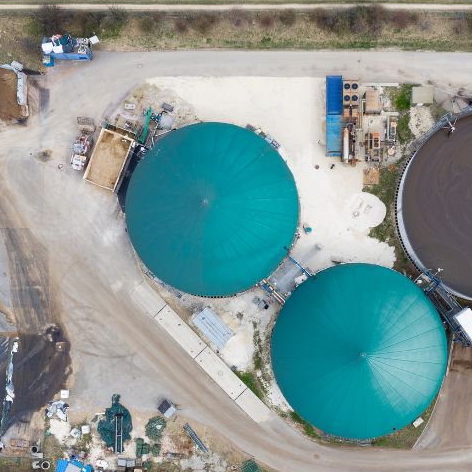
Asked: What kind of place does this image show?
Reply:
industrial area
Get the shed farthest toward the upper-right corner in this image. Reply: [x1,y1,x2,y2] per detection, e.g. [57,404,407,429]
[409,85,434,113]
